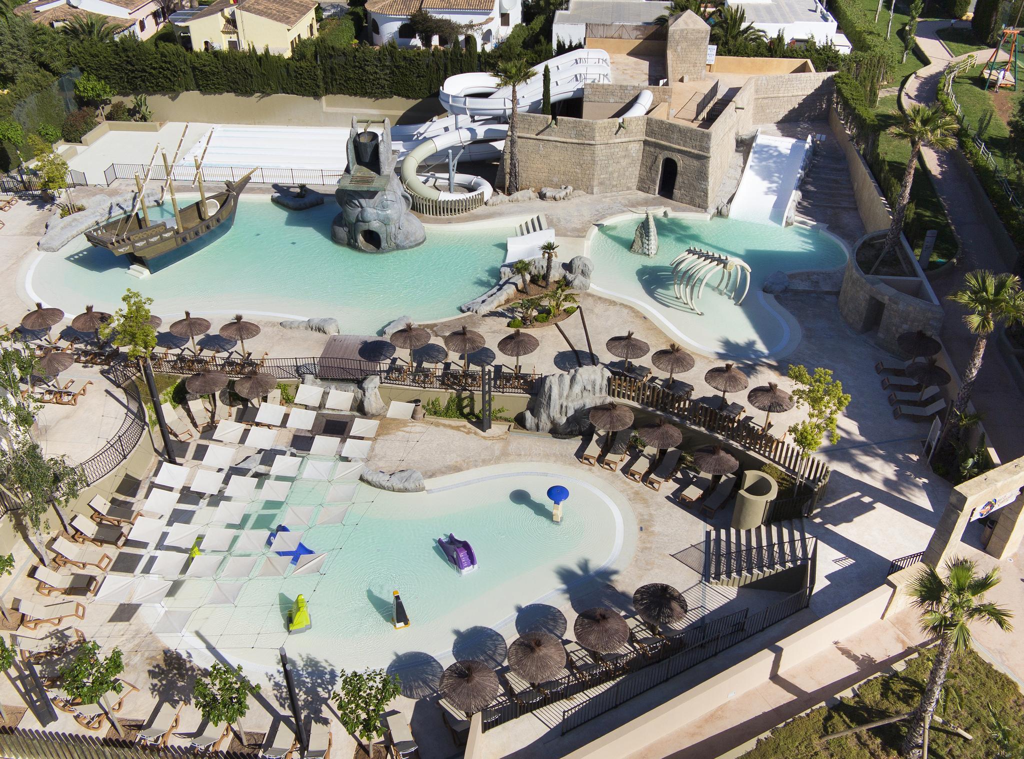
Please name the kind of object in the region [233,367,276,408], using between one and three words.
umbrella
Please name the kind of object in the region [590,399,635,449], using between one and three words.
umbrella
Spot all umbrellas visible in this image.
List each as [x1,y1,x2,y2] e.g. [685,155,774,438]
[495,325,538,375]
[218,314,262,363]
[571,608,629,665]
[631,582,689,640]
[606,327,649,371]
[749,381,797,426]
[185,363,229,414]
[20,302,64,350]
[506,634,566,693]
[390,319,432,368]
[444,322,486,372]
[903,354,951,405]
[68,305,108,352]
[636,418,683,468]
[898,326,943,361]
[437,661,500,722]
[169,309,212,358]
[29,345,77,390]
[651,342,696,387]
[590,399,635,449]
[703,360,749,404]
[233,367,276,408]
